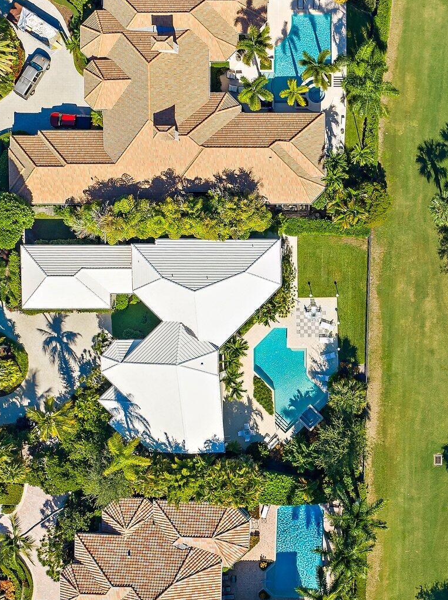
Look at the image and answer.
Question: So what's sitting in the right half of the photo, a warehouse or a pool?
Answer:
pool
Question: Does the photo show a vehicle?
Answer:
Yes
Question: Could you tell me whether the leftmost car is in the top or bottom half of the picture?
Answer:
top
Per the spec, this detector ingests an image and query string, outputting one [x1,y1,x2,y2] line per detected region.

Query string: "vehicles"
[49,111,92,130]
[14,51,53,102]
